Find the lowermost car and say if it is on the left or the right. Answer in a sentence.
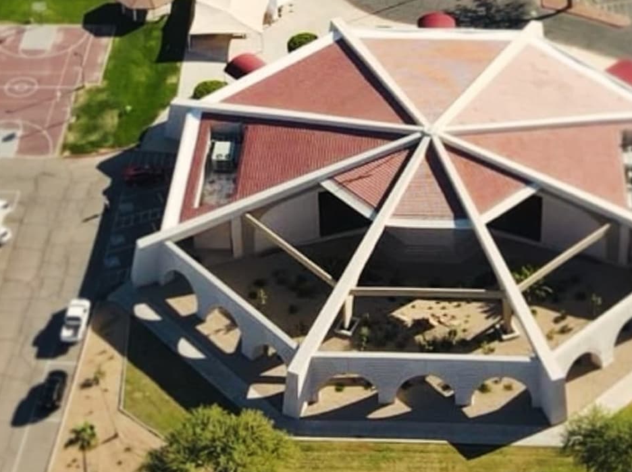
The lowermost car appears in the left half of the scene.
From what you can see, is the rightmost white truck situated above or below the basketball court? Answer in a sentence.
The rightmost white truck is below the basketball court.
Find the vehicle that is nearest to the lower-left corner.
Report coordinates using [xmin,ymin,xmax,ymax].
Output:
[35,370,71,416]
